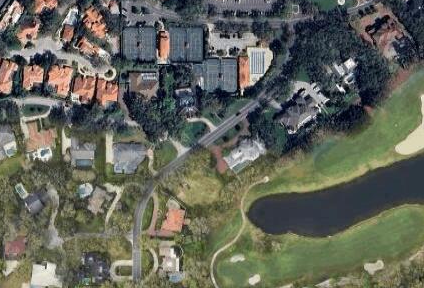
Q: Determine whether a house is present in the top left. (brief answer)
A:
Yes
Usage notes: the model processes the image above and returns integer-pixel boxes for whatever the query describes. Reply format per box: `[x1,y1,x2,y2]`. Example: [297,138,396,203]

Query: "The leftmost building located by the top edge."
[0,5,22,32]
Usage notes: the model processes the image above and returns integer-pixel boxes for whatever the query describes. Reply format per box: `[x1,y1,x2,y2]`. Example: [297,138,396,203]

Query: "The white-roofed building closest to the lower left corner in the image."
[32,263,61,288]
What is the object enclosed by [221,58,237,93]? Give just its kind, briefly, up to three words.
tennis court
